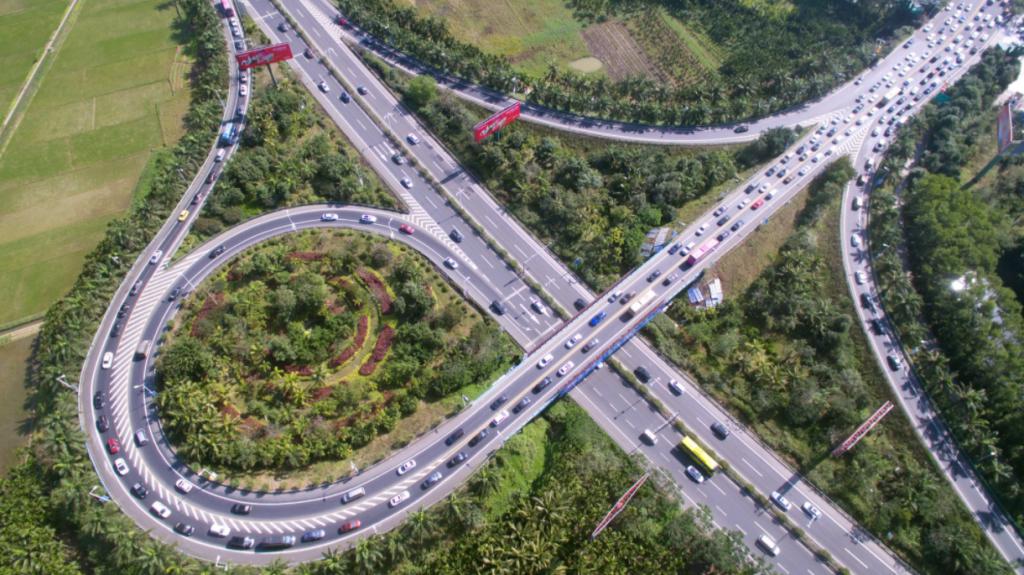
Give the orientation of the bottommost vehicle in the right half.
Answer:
at an angle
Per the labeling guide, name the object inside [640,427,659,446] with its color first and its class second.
white vehicle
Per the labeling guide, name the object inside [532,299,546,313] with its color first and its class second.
white car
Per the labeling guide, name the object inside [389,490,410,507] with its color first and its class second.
white car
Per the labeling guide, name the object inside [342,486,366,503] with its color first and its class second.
white vehicle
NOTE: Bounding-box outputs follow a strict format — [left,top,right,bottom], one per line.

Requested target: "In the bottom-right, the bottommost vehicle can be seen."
[757,533,779,556]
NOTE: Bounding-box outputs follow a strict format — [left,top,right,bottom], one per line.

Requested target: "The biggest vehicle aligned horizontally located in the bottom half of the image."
[259,534,295,548]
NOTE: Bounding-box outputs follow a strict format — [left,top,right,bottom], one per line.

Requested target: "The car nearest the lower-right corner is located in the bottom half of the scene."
[802,501,821,518]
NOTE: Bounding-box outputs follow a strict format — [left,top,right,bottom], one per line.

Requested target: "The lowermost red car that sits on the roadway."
[340,519,360,532]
